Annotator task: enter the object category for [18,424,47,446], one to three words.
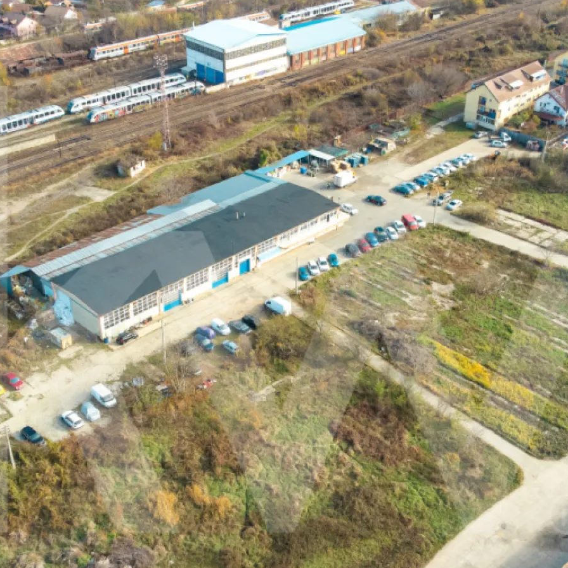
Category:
car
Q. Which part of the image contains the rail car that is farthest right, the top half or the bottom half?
top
